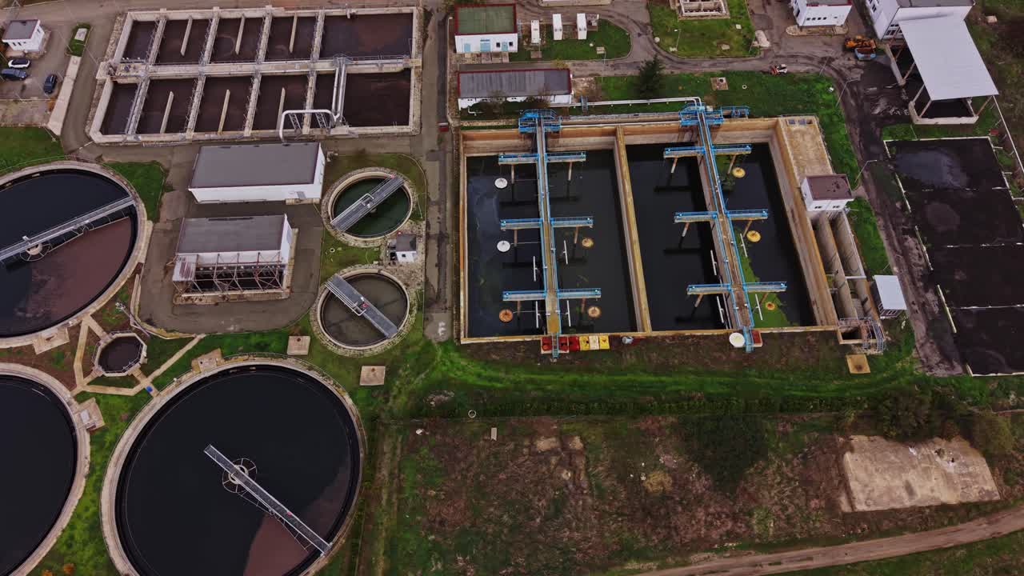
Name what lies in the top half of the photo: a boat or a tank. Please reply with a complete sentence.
What appears in the top half of the photo is a tank.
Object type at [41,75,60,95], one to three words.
car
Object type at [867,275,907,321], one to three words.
shed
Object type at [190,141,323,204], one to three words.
building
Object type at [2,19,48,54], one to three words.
building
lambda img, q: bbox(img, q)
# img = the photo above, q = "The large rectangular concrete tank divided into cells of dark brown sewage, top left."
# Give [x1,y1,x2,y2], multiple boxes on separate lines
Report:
[90,4,424,148]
